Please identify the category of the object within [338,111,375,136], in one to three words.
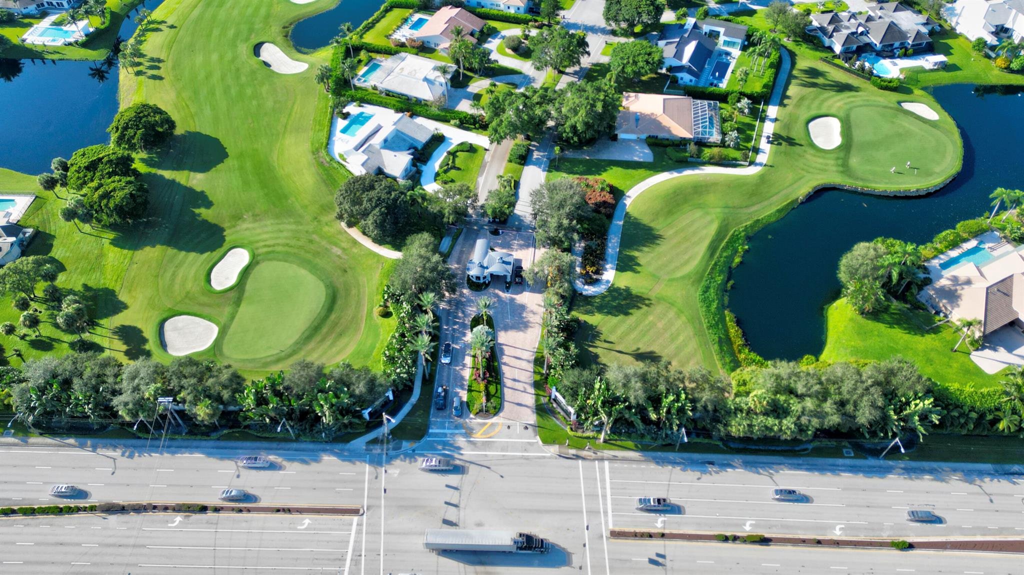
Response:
swimming pool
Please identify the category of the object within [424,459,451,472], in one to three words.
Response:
vehicle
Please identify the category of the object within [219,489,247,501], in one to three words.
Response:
vehicle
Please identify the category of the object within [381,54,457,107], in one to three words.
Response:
house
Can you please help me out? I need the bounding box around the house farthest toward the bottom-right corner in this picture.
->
[925,249,1024,339]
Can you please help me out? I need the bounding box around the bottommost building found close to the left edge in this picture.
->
[0,225,37,268]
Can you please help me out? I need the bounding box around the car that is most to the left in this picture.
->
[49,486,78,498]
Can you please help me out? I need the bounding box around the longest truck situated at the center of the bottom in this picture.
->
[423,534,548,558]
